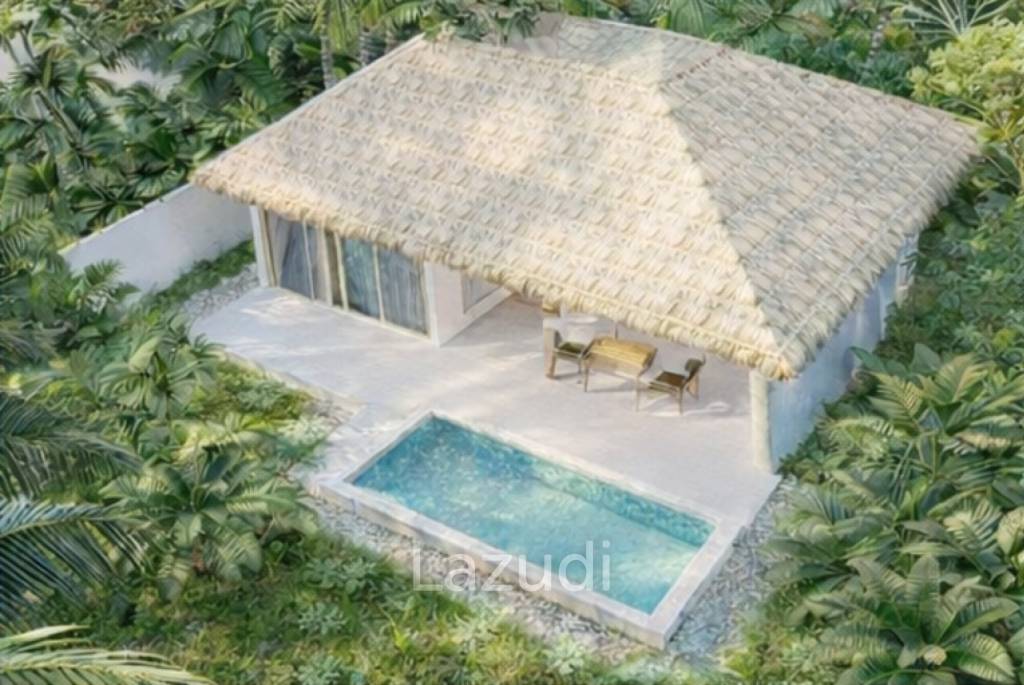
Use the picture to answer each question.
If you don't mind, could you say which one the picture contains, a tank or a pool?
pool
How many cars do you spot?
none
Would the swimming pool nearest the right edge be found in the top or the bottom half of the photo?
bottom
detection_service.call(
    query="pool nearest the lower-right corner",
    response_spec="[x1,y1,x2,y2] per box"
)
[311,396,744,651]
